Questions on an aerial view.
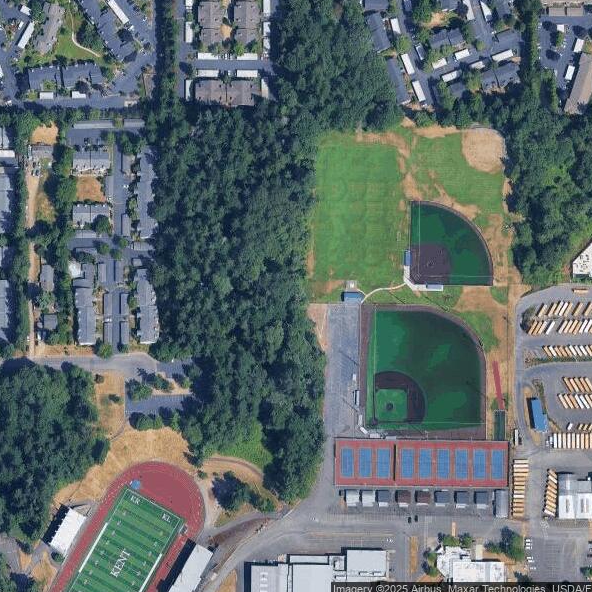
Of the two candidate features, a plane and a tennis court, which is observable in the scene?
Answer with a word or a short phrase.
tennis court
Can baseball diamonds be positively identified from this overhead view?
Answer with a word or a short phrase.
Yes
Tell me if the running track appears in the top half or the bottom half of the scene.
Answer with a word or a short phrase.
bottom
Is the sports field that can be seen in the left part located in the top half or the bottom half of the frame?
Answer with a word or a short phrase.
bottom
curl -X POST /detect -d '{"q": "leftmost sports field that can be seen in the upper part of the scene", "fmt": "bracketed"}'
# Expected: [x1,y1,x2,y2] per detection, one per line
[315,146,404,287]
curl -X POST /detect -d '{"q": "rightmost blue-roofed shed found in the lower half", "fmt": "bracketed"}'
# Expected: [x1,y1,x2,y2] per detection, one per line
[530,397,549,432]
